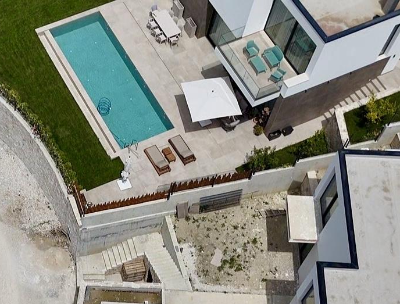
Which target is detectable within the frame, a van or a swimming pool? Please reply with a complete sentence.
This aerial view contains a swimming pool.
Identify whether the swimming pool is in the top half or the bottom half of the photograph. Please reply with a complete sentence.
The top half of the photo is where the swimming pool is.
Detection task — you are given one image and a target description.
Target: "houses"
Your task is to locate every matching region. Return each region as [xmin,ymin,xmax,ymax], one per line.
[170,0,400,137]
[286,148,400,304]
